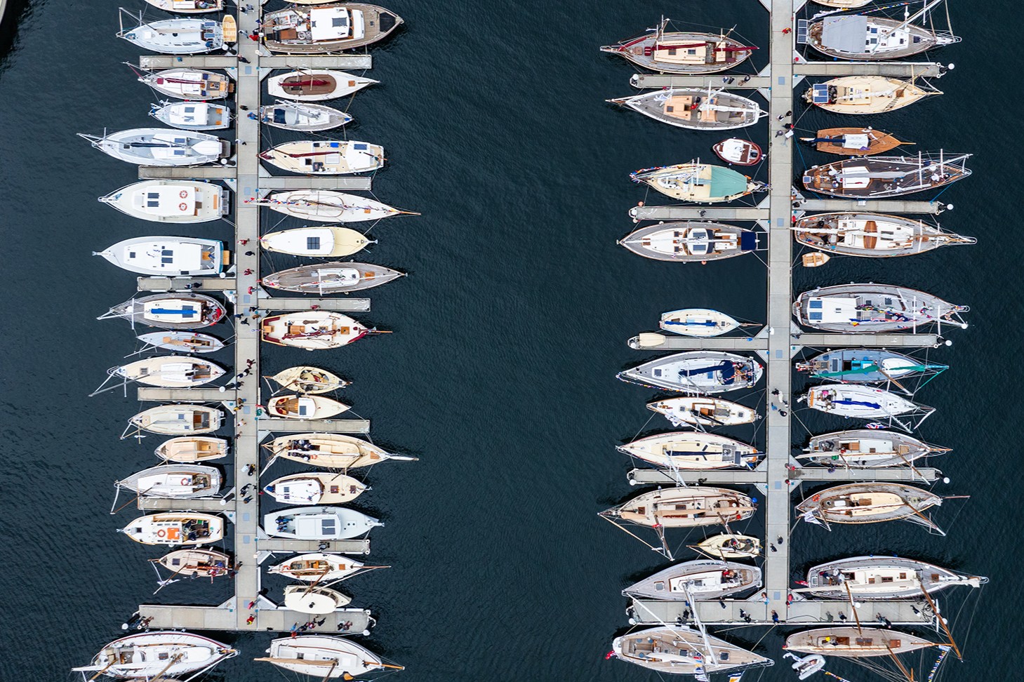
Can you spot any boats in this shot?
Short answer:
Yes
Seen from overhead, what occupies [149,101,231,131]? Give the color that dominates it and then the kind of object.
white boat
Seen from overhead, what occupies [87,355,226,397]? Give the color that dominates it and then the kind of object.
white boat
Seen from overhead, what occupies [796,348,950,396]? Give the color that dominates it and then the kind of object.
blue boat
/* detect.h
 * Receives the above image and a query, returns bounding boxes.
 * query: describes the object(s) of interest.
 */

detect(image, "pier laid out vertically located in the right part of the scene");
[758,0,805,624]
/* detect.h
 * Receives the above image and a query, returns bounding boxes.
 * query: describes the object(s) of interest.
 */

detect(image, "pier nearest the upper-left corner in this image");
[139,44,238,80]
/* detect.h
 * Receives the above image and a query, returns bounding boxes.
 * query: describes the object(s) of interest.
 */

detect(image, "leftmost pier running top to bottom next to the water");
[232,0,268,630]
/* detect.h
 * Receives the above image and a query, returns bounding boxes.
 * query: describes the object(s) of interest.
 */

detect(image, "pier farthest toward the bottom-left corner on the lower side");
[139,591,235,630]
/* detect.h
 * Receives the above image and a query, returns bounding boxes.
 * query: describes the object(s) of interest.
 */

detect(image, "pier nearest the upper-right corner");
[793,52,943,89]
